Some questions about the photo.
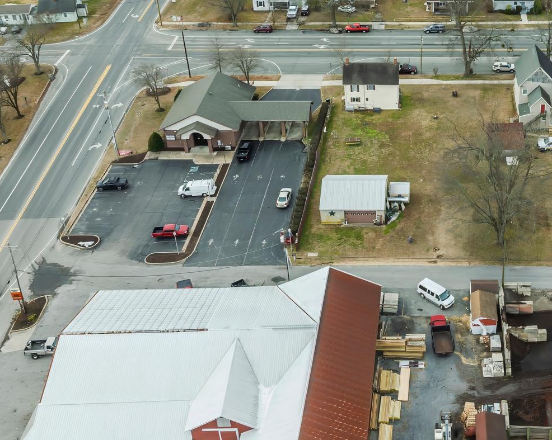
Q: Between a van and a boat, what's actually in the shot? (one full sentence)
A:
The image shows a van.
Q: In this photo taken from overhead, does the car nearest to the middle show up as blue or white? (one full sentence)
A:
The color of the car nearest to the middle is white.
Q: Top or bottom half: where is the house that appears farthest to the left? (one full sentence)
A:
It is in the top half that the house that appears farthest to the left appears.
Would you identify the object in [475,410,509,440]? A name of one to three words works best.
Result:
shed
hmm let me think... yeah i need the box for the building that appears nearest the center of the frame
[319,171,393,223]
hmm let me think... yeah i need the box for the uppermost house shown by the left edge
[0,0,113,27]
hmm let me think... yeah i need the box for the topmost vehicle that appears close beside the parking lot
[231,138,255,159]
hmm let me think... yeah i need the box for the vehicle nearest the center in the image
[272,185,296,207]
